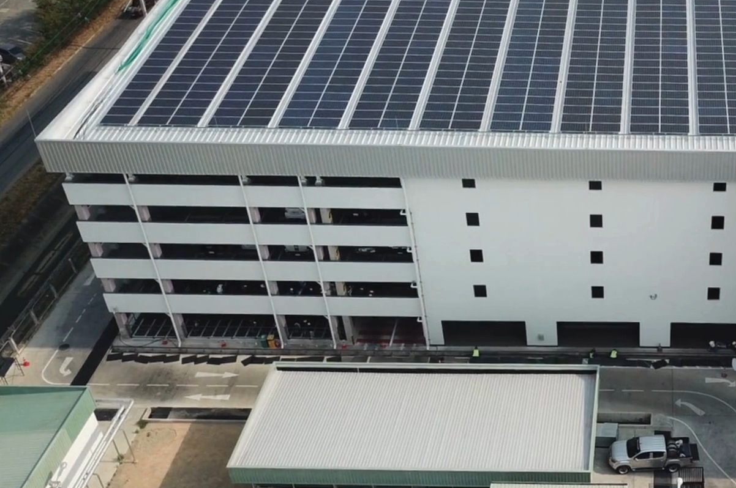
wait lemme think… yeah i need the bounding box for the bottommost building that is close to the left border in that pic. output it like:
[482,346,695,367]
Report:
[0,385,104,488]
